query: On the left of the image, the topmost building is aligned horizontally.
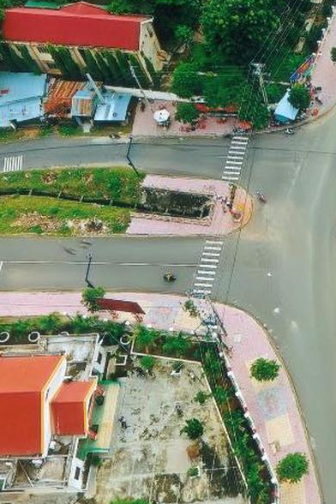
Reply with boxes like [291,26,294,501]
[4,0,168,83]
